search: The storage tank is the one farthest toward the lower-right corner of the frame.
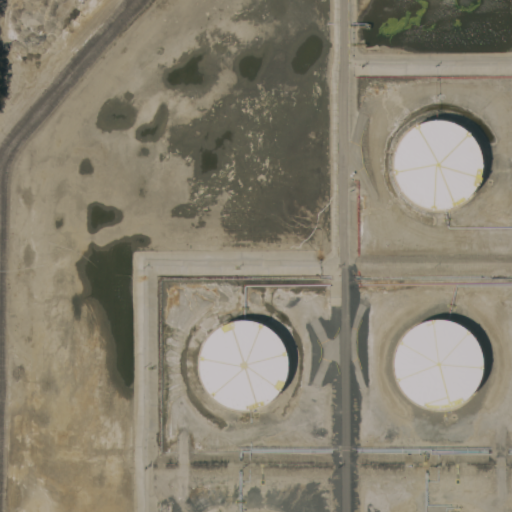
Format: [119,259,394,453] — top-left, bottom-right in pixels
[392,319,485,412]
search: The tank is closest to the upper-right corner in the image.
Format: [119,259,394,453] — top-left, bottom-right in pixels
[390,119,484,212]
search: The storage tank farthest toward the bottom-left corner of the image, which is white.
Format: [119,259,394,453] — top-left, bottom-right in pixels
[196,320,290,414]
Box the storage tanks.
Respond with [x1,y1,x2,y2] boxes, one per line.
[390,119,484,212]
[196,320,290,414]
[392,319,485,412]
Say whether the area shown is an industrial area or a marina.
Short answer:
industrial area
